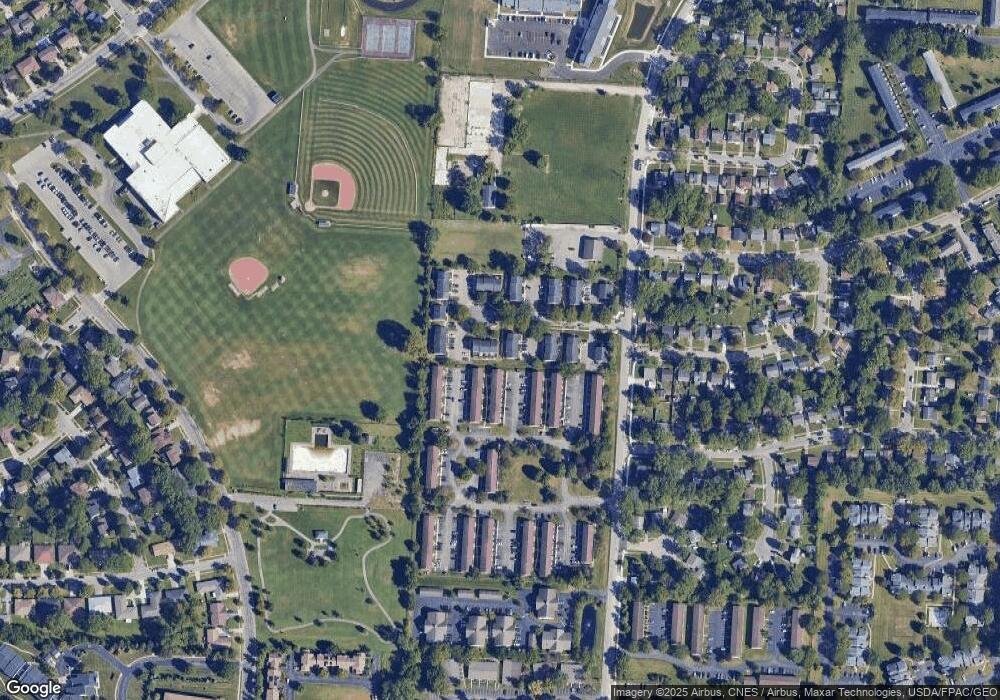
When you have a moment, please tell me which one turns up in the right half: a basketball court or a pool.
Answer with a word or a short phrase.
pool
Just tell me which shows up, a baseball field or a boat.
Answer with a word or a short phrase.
baseball field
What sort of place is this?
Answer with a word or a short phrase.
residential area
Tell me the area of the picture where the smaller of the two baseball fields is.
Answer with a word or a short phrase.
left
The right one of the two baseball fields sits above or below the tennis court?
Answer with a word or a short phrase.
below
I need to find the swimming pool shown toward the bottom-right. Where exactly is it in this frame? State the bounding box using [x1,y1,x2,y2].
[926,603,954,628]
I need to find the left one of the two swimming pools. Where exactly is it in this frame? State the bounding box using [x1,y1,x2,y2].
[286,427,354,492]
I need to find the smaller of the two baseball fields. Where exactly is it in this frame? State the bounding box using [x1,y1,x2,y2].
[228,256,270,299]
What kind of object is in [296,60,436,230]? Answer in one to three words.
baseball field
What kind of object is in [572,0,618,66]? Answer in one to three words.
building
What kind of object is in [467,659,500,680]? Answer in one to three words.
house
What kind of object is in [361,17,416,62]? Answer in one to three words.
tennis court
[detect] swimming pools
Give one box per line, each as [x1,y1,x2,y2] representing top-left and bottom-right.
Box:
[926,603,954,628]
[286,427,354,492]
